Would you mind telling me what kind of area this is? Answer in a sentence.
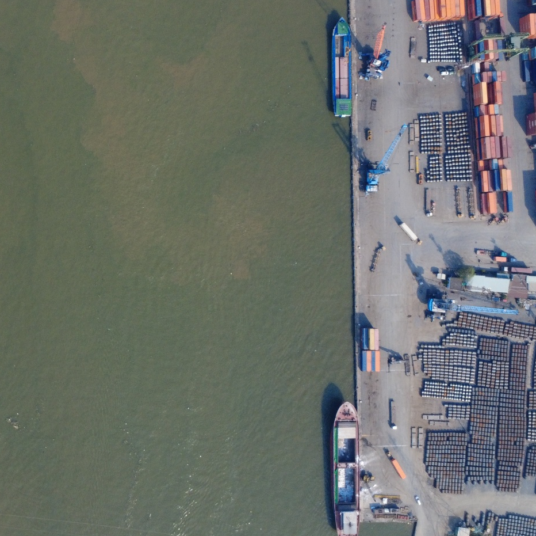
What you see here is a port.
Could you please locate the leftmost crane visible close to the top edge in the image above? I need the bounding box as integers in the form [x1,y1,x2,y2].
[353,22,392,80]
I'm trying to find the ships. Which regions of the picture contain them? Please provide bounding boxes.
[331,17,354,118]
[333,400,361,536]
